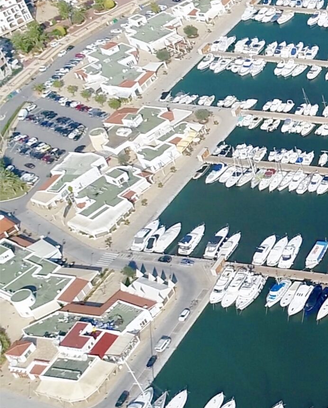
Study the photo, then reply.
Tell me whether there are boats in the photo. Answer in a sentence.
Yes, a boat is visible in the scene.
